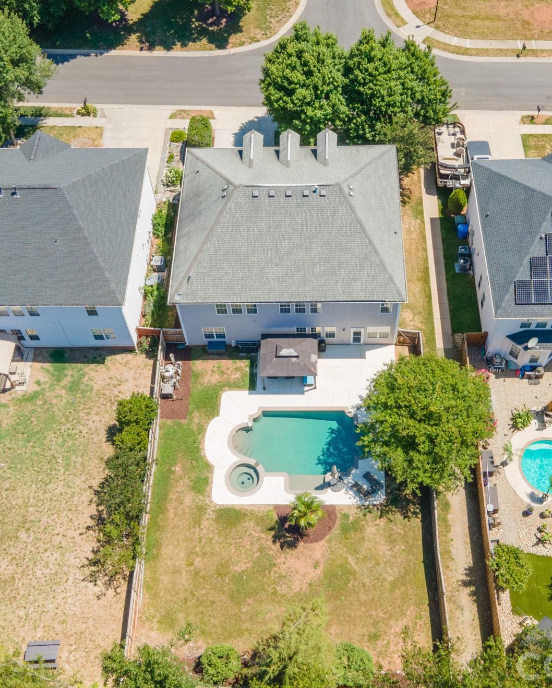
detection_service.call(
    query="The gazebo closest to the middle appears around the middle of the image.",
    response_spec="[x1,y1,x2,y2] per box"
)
[261,338,317,392]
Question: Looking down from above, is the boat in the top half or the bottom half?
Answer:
top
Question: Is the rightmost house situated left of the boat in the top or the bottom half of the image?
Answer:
top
